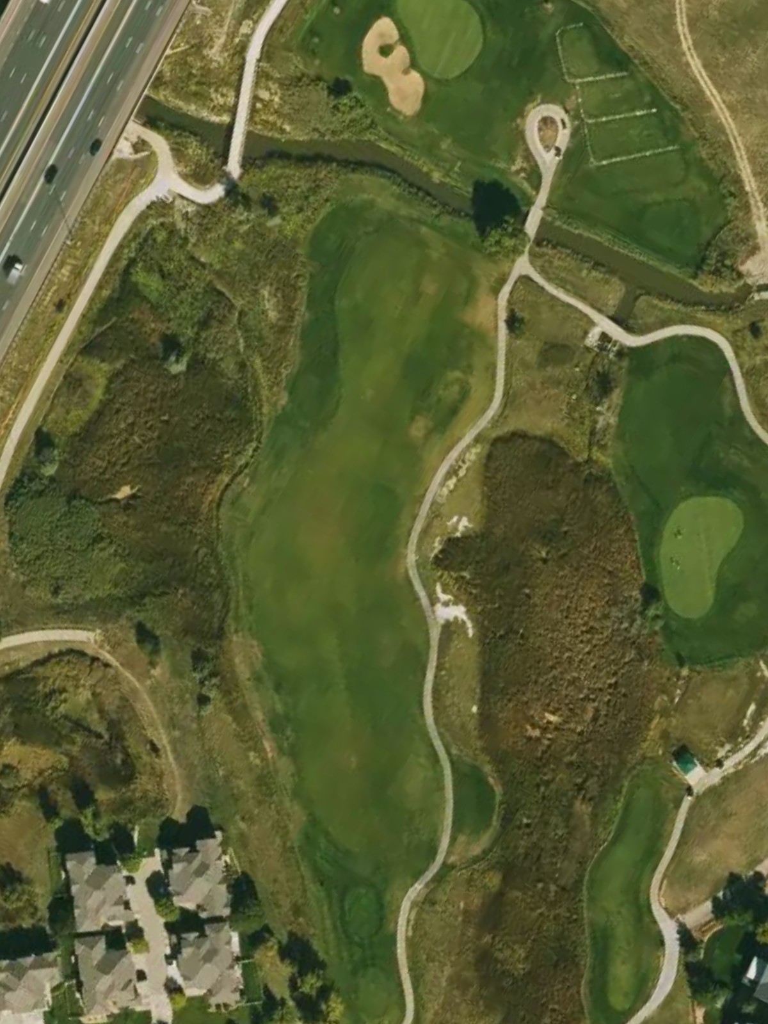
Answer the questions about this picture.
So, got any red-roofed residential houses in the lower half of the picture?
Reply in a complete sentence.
No, no red-roofed residential house is visible in the lower half of the picture.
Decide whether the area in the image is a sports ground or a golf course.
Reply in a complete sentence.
What you see here is a golf course.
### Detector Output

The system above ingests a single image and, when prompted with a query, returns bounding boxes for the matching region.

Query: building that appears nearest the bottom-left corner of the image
[0,955,60,1023]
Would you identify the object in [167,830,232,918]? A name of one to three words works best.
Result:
house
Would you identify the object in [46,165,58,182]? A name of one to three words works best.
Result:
vehicle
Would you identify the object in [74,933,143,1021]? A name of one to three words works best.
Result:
house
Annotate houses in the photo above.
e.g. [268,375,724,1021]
[167,830,232,918]
[64,849,133,933]
[746,962,768,1011]
[177,920,242,1007]
[74,933,143,1021]
[0,955,60,1023]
